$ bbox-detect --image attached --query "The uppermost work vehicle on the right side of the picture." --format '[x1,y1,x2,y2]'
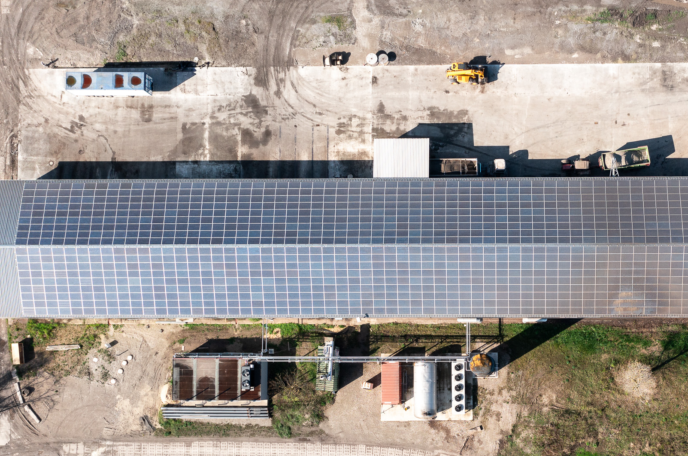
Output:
[445,61,489,85]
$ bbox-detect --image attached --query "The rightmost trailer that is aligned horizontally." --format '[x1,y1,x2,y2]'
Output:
[589,145,652,174]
